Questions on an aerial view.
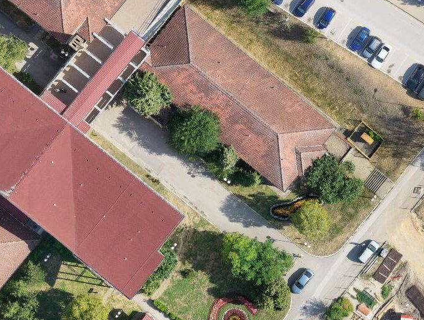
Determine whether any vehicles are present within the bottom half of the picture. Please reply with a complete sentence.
Yes, the scene does show a vehicle within the bottom half of the picture.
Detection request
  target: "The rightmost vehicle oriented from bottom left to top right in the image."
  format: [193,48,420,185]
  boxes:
[402,63,424,91]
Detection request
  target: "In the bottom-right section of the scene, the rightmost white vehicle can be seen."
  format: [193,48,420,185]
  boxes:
[359,239,380,265]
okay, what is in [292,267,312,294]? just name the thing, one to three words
car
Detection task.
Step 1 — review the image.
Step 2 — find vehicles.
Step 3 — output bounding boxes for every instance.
[271,0,284,6]
[369,44,392,69]
[348,26,370,51]
[293,0,312,18]
[359,239,380,265]
[359,35,382,60]
[402,63,424,91]
[292,267,312,294]
[318,6,336,29]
